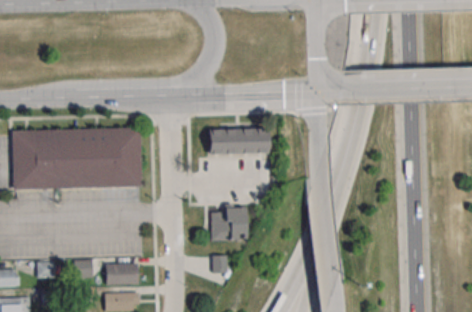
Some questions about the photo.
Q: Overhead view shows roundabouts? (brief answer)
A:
No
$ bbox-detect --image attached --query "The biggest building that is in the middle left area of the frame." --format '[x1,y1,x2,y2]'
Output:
[13,129,141,188]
